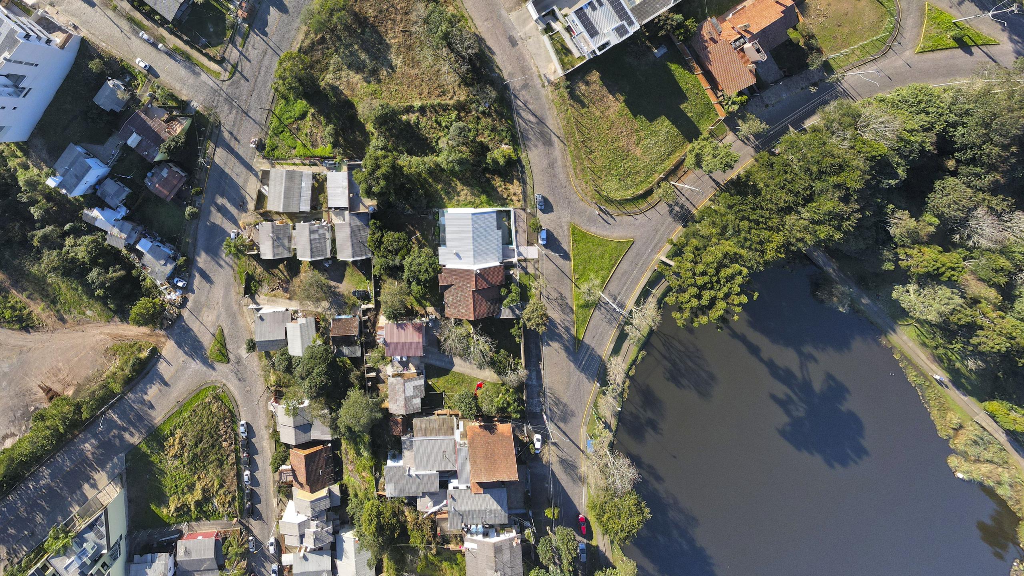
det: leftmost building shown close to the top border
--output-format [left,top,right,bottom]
[0,0,88,142]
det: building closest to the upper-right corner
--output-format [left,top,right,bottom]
[685,0,799,97]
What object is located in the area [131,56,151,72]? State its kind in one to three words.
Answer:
car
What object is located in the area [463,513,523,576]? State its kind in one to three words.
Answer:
house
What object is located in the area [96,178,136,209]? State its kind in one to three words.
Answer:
house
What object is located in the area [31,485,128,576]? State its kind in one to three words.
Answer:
building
